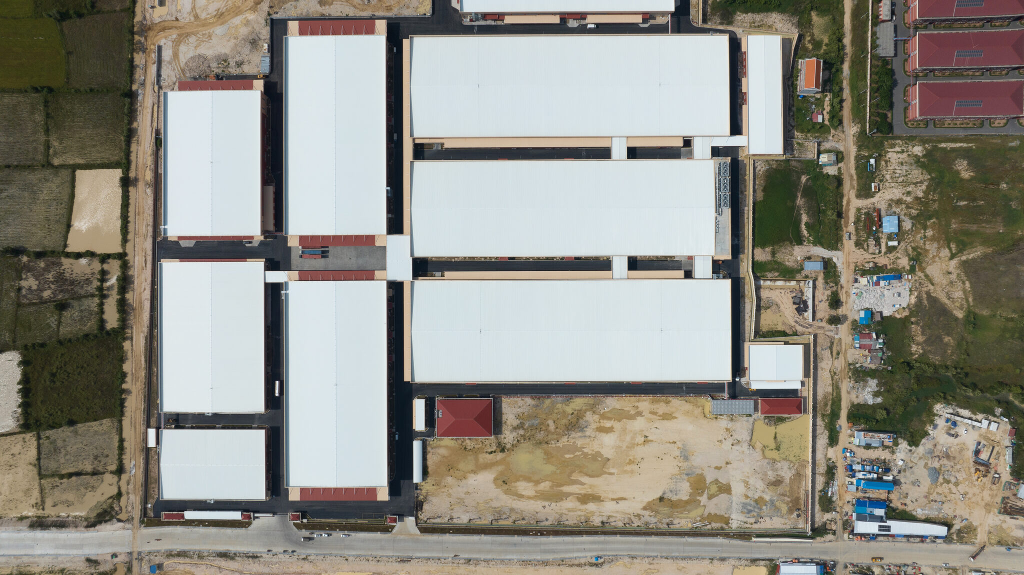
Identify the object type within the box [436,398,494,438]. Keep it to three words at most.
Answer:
building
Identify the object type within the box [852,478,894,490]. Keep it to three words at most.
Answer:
building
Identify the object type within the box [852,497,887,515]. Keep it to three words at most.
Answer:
house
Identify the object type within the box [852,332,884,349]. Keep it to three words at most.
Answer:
house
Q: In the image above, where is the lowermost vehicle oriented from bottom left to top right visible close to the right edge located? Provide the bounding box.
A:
[969,539,991,562]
